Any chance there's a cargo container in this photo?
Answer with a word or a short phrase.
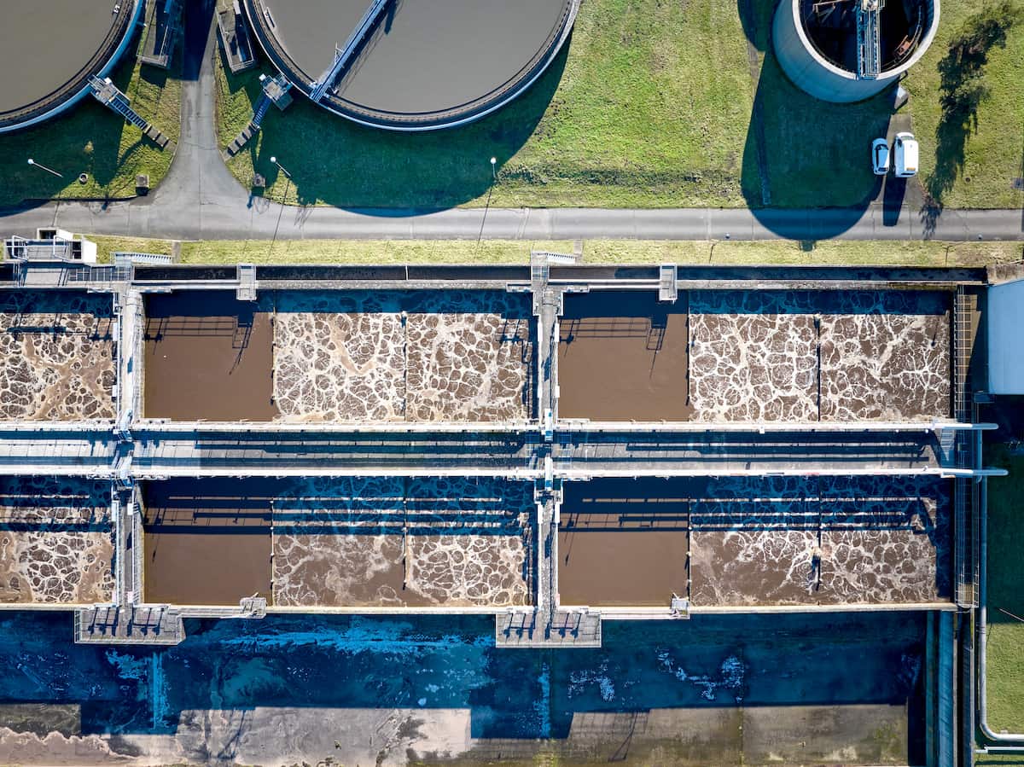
No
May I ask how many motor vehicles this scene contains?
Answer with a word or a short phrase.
2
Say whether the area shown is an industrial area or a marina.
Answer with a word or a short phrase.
industrial area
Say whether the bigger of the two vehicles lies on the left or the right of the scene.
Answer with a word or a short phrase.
right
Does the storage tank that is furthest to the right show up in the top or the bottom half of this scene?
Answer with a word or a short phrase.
top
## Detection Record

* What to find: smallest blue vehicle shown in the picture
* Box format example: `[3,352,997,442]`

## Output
[873,138,895,173]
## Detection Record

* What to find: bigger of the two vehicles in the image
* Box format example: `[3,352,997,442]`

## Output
[896,132,922,176]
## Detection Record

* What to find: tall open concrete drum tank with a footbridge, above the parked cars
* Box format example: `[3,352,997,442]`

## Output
[772,0,940,102]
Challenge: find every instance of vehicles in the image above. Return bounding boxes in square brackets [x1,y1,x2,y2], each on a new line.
[896,132,922,176]
[873,138,895,173]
